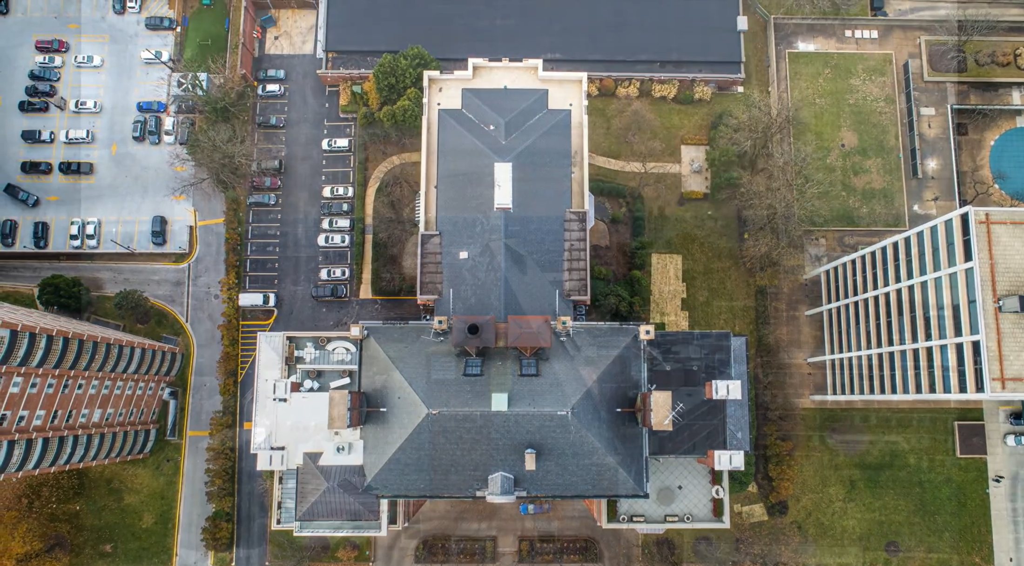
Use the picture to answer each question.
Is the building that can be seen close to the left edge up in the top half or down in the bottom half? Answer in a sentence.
The building that can be seen close to the left edge sits in the bottom half of the picture.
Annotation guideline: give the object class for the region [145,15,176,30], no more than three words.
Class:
vehicle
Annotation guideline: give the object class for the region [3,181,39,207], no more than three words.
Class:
truck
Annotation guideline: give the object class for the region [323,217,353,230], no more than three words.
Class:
vehicle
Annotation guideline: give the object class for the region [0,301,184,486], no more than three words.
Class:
building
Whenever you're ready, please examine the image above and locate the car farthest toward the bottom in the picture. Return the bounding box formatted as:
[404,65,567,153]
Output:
[520,502,551,517]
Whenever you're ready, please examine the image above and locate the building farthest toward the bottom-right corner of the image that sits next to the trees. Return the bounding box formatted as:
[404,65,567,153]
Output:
[806,205,1024,407]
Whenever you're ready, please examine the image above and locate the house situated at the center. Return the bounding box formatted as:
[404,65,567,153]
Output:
[250,58,750,537]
